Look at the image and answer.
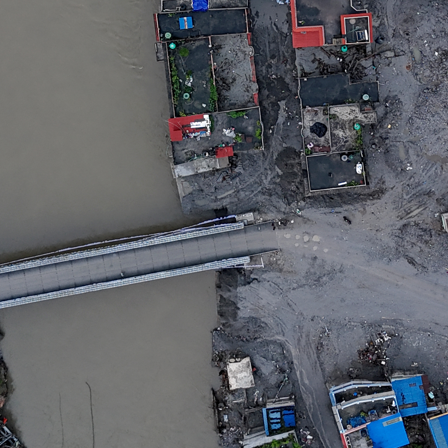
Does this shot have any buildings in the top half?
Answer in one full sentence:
Yes, the scene does show a building in the top half.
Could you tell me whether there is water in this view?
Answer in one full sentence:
Yes, there's water in this view.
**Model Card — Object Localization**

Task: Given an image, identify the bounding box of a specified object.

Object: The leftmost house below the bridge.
[226,352,255,391]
